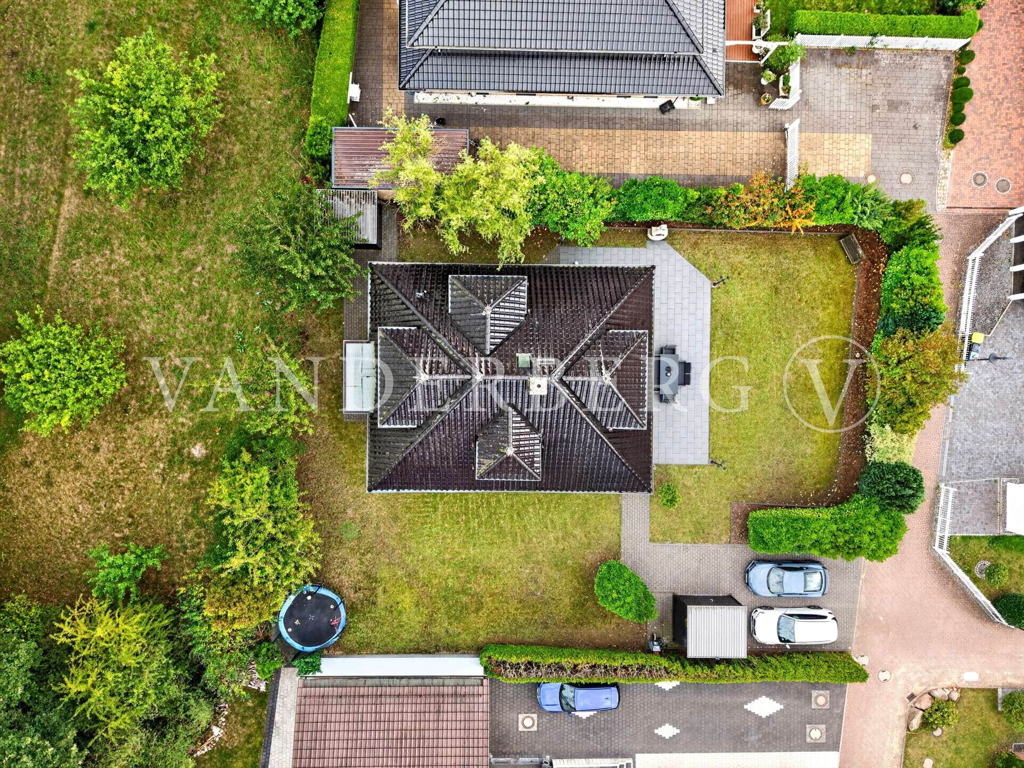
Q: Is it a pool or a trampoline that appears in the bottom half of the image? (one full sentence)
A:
Looking in the bottom half of the image, you will find a trampoline.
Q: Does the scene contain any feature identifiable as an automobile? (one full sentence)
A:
Yes, an automobile is visible in the scene.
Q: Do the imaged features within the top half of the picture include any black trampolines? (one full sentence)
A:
No, I can find no black trampoline within the top half of the picture.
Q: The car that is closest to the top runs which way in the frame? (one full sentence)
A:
The car that is closest to the top is oriented from left to right.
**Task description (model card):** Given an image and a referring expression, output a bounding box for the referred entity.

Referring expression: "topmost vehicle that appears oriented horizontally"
[745,561,831,602]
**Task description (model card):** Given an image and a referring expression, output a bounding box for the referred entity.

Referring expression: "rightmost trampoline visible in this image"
[272,580,348,660]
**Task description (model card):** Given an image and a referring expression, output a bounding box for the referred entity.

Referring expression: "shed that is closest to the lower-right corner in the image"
[673,595,747,661]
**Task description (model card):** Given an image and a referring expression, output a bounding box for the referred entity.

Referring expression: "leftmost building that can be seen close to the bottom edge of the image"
[291,669,490,768]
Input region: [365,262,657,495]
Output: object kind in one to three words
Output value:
house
